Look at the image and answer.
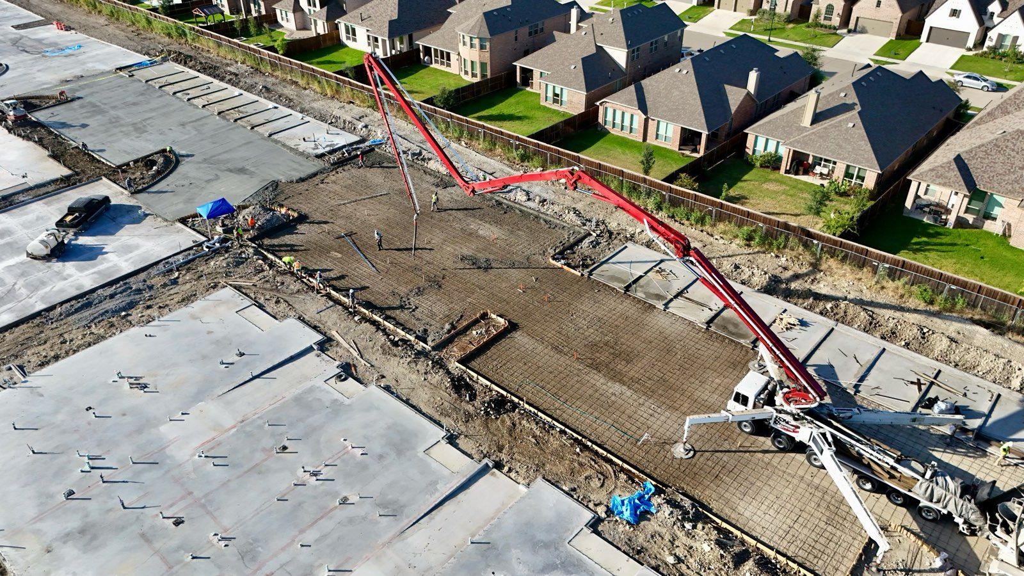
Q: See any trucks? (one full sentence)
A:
Yes, the image includes a truck.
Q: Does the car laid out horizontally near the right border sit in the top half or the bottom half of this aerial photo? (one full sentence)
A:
You can find the car laid out horizontally near the right border in the top half.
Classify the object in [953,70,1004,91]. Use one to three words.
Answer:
car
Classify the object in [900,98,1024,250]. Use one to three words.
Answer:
house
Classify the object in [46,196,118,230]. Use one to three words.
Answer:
truck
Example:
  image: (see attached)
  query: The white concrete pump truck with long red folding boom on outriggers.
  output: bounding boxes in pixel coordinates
[361,56,1011,576]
